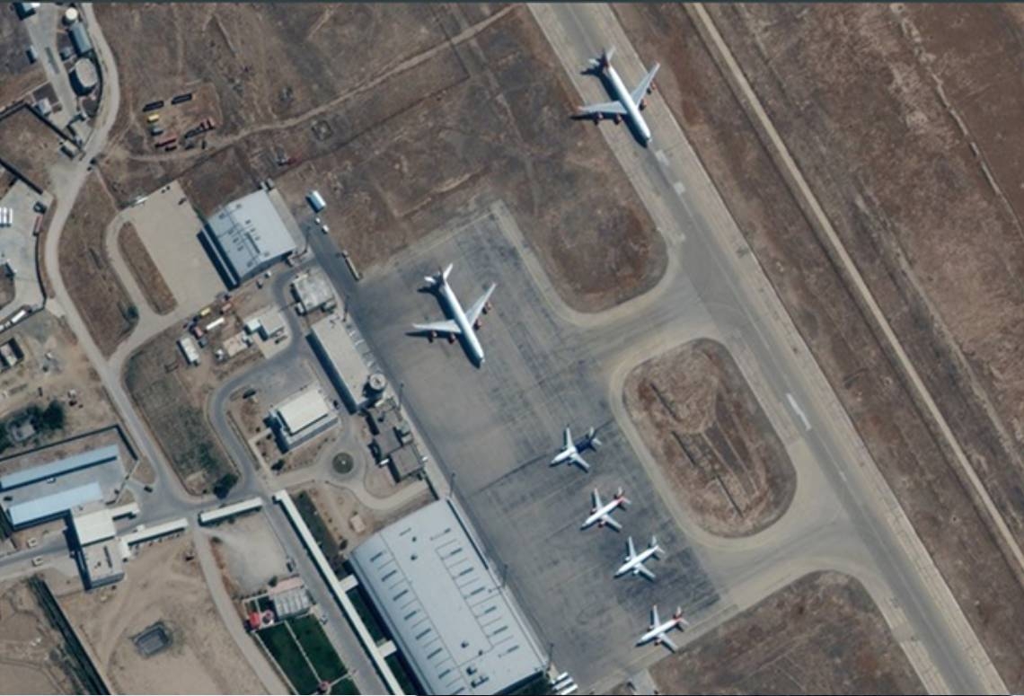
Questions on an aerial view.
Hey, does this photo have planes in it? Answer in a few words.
Yes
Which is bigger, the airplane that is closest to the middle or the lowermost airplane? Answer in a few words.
the airplane that is closest to the middle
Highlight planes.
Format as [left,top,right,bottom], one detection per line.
[413,268,499,365]
[580,49,664,143]
[635,606,688,648]
[613,536,664,577]
[549,427,600,468]
[580,488,631,528]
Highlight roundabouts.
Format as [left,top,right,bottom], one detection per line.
[322,443,364,482]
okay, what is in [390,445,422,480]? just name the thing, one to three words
building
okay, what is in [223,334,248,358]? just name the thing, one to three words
shed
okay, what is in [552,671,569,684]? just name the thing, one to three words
vehicle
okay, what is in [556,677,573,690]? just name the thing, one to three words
vehicle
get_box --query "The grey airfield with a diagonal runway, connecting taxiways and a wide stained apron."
[284,0,1008,696]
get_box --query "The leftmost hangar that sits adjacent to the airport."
[201,190,303,286]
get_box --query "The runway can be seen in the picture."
[527,0,1008,696]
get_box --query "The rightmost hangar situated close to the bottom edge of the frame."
[351,498,546,696]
